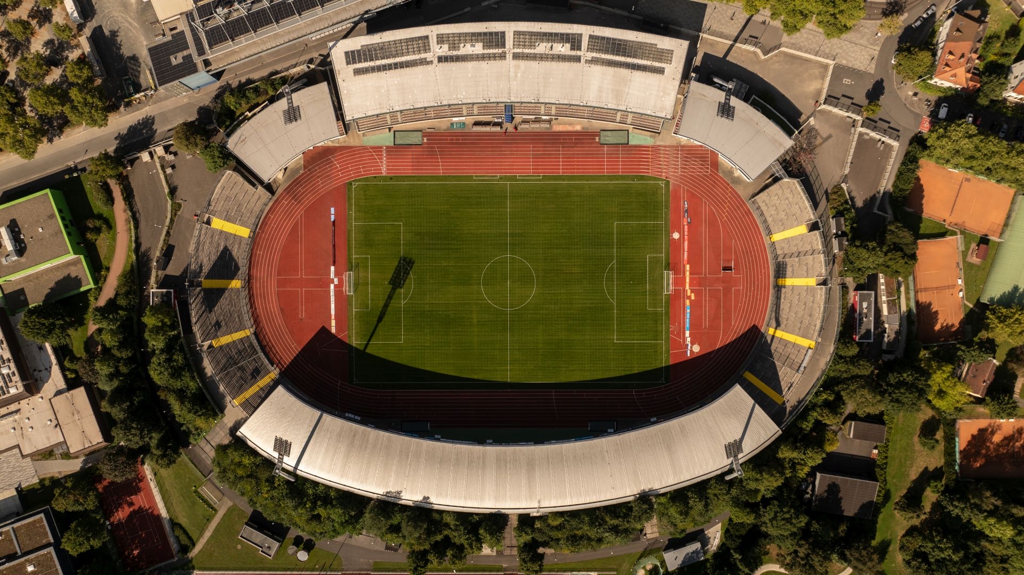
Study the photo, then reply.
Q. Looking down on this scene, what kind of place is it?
sports ground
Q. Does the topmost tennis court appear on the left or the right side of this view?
right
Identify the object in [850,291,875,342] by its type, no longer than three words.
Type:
building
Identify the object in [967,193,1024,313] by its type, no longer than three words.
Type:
building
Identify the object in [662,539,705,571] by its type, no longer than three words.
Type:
shed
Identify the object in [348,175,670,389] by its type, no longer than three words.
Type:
soccer field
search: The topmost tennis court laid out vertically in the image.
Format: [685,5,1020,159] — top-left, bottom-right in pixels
[915,237,964,344]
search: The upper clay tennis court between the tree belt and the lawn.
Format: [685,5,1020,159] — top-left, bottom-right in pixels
[910,160,1015,235]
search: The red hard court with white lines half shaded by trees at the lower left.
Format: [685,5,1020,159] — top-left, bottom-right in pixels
[98,462,180,575]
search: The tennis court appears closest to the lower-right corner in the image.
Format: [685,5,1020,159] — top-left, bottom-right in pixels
[957,419,1024,478]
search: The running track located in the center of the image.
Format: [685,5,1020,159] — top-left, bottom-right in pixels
[246,131,771,440]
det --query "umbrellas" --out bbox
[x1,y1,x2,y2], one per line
[288,546,298,555]
[297,551,308,561]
